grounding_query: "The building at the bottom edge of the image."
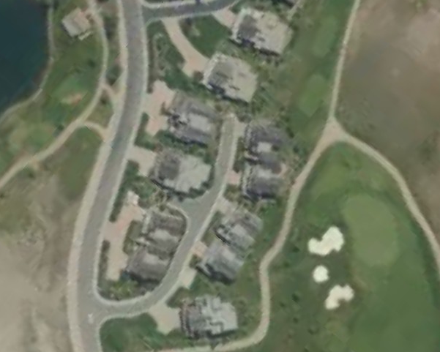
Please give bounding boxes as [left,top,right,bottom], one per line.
[181,296,240,337]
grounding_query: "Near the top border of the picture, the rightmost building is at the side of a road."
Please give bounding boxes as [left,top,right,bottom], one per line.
[232,8,291,55]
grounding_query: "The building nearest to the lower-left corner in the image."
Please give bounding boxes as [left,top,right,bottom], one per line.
[126,235,173,278]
